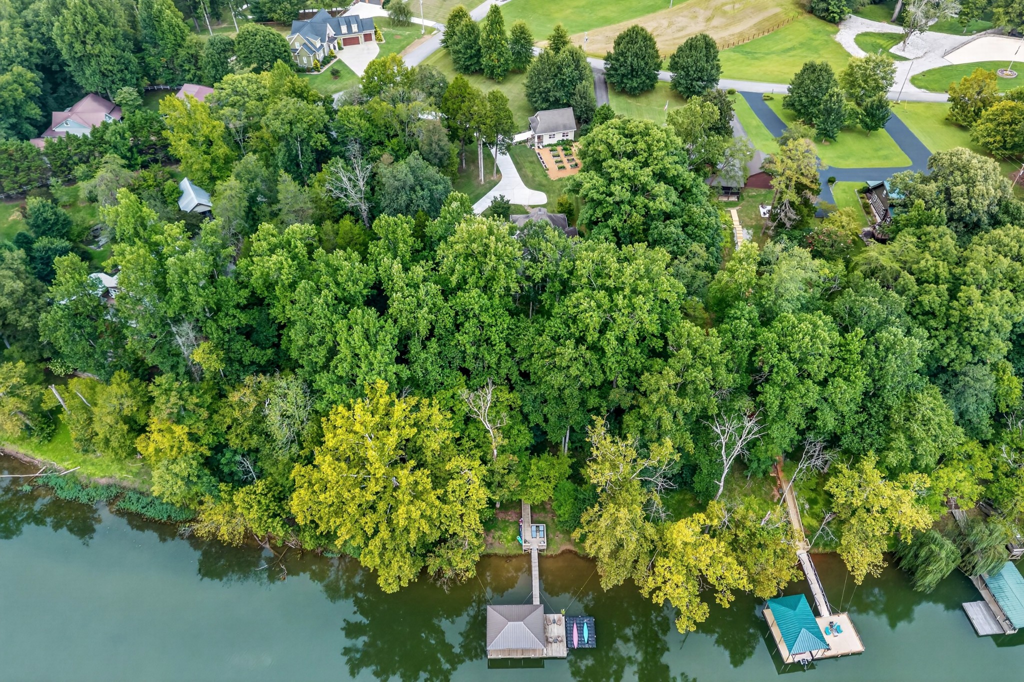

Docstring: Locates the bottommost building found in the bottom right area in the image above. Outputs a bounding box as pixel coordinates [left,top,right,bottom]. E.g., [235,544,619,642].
[971,554,1024,638]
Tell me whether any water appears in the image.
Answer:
Yes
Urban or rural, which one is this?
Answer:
rural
